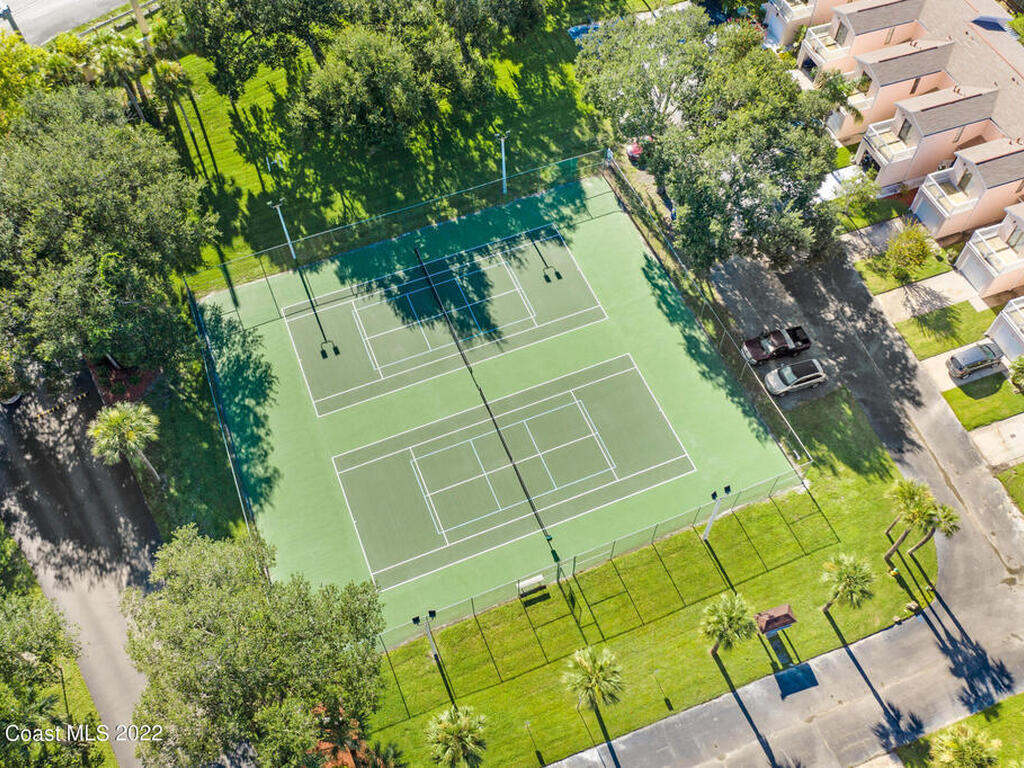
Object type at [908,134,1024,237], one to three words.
house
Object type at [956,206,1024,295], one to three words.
house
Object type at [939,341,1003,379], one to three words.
car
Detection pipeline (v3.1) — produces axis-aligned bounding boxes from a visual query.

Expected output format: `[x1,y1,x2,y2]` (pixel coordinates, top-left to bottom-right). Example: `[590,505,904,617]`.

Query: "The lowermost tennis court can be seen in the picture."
[332,353,696,592]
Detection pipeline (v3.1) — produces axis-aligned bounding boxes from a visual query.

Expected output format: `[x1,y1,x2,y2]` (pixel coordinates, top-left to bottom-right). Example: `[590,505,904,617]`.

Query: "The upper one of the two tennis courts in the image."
[282,223,608,417]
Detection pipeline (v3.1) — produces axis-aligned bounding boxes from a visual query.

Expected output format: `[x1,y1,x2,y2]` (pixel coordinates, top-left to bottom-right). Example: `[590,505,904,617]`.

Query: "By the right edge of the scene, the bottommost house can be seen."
[988,298,1024,366]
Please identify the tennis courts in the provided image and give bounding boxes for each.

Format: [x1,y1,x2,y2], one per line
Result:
[332,353,696,592]
[282,223,608,417]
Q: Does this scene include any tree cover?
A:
Yes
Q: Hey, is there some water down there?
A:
No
